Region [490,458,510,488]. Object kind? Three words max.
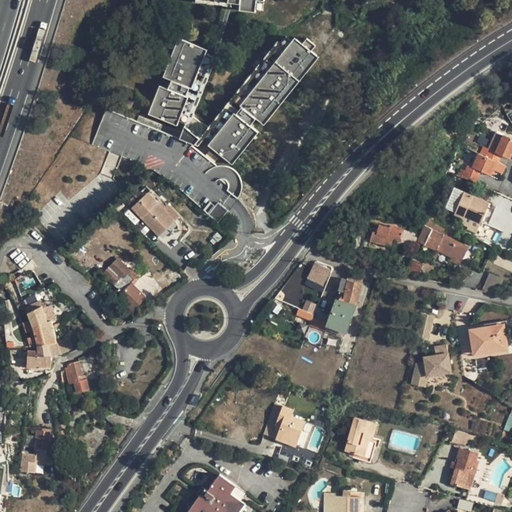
swimming pool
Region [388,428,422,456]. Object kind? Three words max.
swimming pool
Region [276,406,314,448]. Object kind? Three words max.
house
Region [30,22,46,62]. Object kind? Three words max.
vehicle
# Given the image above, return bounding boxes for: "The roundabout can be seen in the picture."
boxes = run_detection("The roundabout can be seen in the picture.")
[165,278,246,359]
